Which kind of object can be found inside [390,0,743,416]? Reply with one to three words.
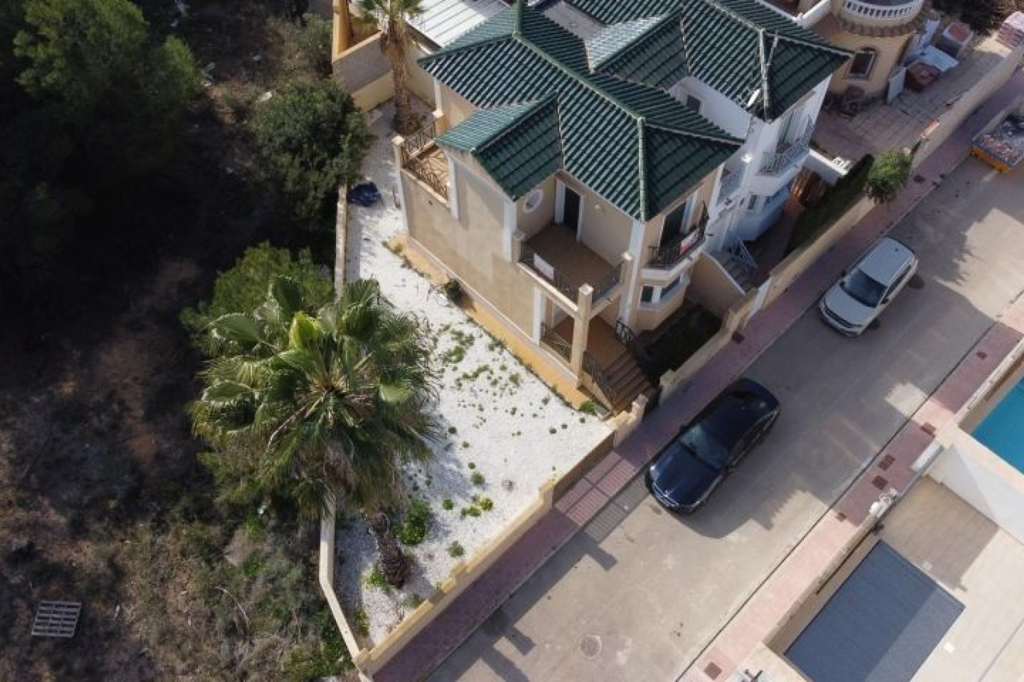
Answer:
house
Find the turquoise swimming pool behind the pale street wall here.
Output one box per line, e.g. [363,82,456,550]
[971,368,1024,468]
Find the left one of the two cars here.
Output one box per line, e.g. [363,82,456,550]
[646,382,780,513]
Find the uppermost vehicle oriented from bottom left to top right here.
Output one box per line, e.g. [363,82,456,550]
[817,236,927,343]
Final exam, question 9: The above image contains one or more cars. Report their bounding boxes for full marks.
[817,236,927,343]
[646,382,780,513]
